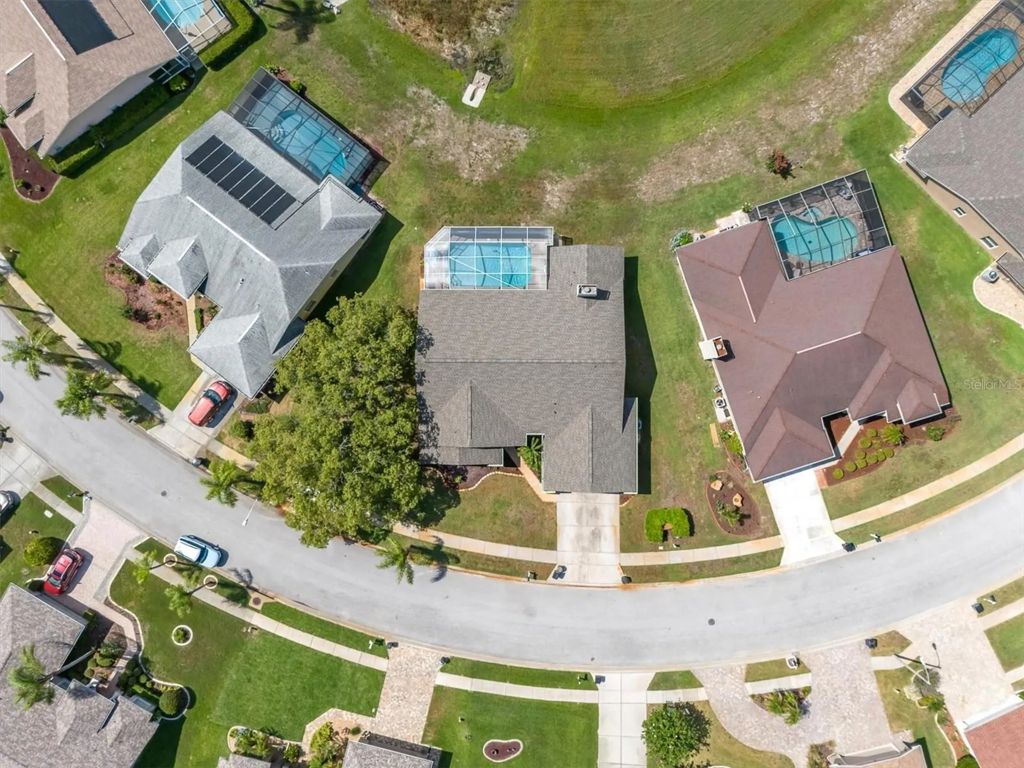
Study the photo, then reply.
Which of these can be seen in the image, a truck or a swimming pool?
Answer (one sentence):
I can see a swimming pool in this picture.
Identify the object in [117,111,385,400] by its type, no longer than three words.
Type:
house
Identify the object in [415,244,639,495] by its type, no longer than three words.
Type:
house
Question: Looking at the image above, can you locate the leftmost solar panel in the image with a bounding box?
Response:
[39,0,115,54]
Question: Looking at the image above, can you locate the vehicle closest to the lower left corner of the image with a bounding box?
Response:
[45,546,87,597]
